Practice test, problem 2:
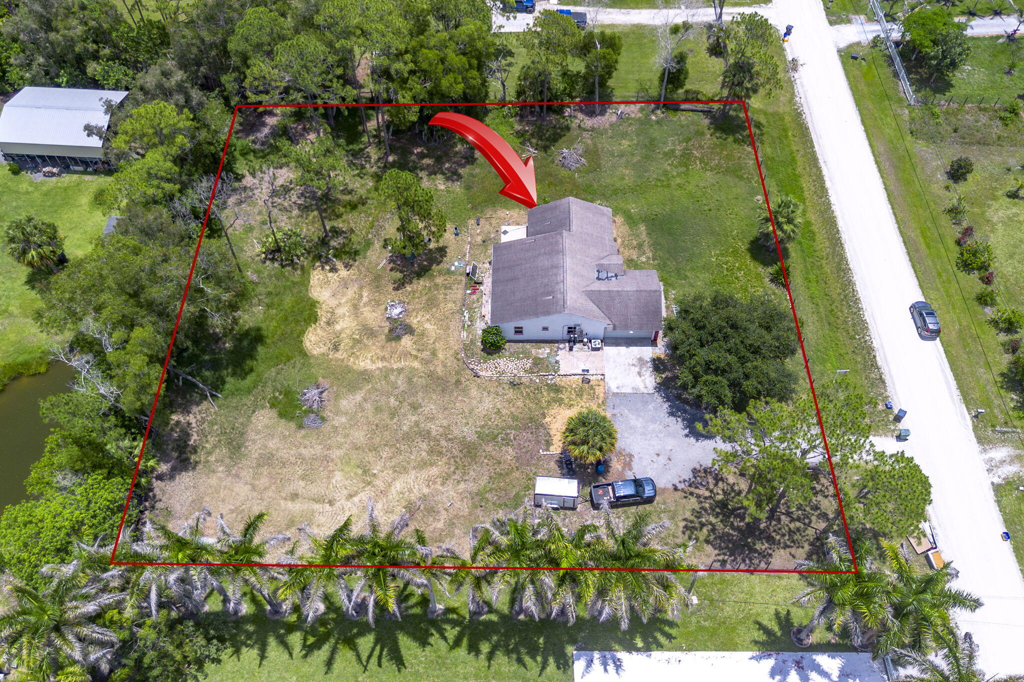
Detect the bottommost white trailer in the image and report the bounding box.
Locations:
[535,476,589,508]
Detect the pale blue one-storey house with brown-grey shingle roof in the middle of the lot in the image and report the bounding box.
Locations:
[490,196,662,340]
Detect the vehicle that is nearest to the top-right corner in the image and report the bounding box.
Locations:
[909,298,940,335]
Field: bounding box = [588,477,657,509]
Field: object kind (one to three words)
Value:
truck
